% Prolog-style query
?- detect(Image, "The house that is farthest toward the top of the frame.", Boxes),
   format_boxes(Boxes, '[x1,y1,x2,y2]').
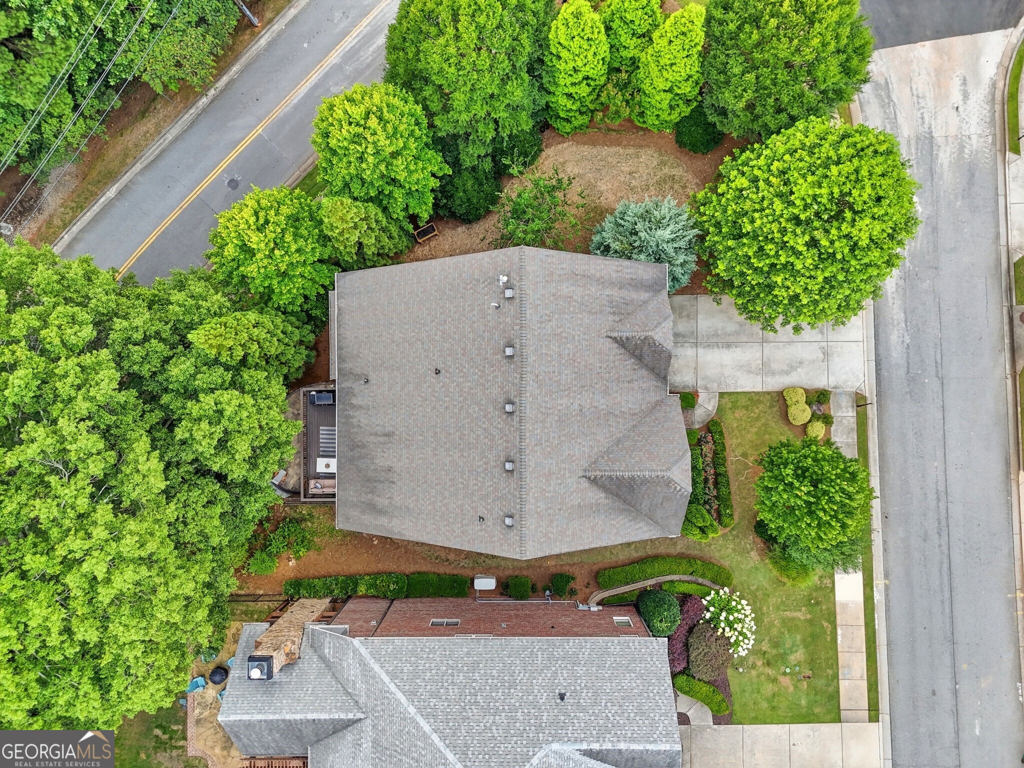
[327,247,693,559]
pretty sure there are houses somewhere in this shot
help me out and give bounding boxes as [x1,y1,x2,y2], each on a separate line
[217,590,683,768]
[327,247,693,559]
